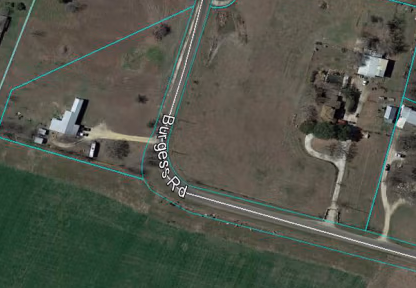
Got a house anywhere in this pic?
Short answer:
Yes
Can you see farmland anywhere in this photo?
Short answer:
Yes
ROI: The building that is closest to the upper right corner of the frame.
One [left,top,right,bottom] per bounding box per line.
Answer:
[360,54,389,77]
